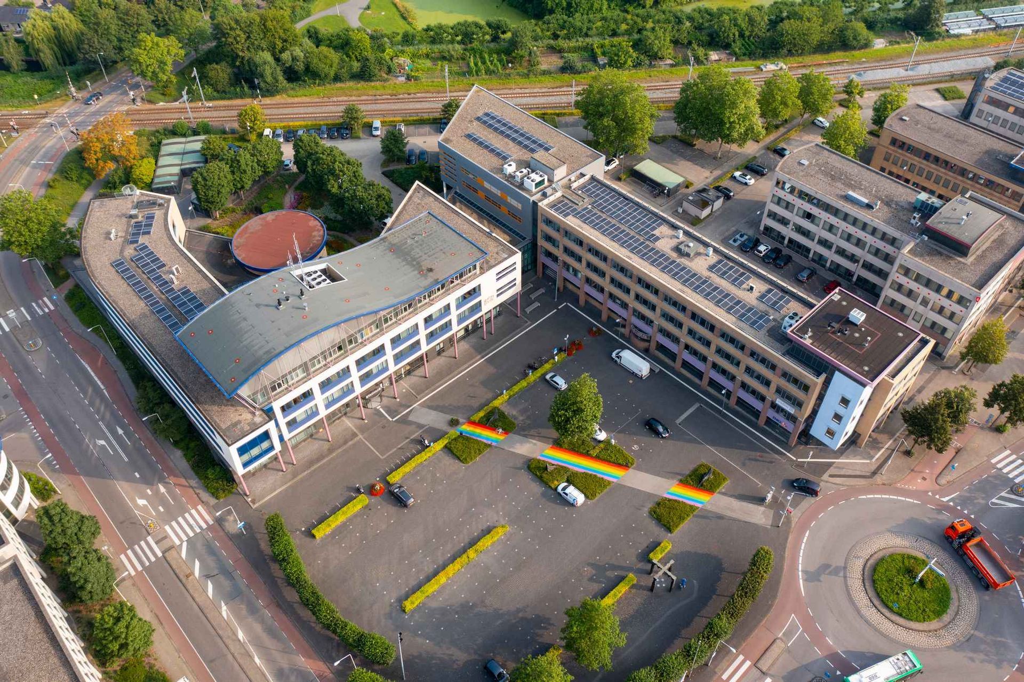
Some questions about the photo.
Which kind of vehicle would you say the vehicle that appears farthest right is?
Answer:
truck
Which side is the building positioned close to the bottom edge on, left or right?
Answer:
left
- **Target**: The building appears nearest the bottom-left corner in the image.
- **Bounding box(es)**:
[0,506,103,682]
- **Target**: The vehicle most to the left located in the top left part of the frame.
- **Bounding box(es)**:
[83,91,102,103]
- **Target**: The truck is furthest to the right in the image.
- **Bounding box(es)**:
[944,519,1015,585]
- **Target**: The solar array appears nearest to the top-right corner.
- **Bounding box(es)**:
[991,70,1024,101]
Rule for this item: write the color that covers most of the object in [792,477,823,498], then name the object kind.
black car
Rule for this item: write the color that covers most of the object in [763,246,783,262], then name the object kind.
black car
